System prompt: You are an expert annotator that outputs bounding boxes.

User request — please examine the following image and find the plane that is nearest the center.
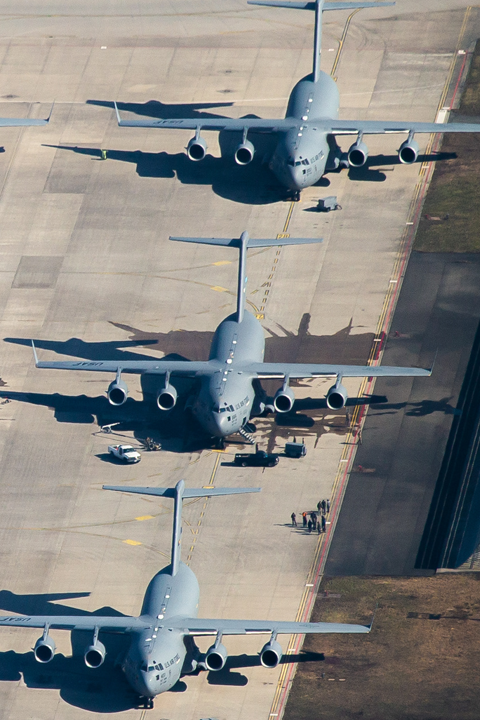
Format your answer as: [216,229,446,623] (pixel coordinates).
[31,228,438,449]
